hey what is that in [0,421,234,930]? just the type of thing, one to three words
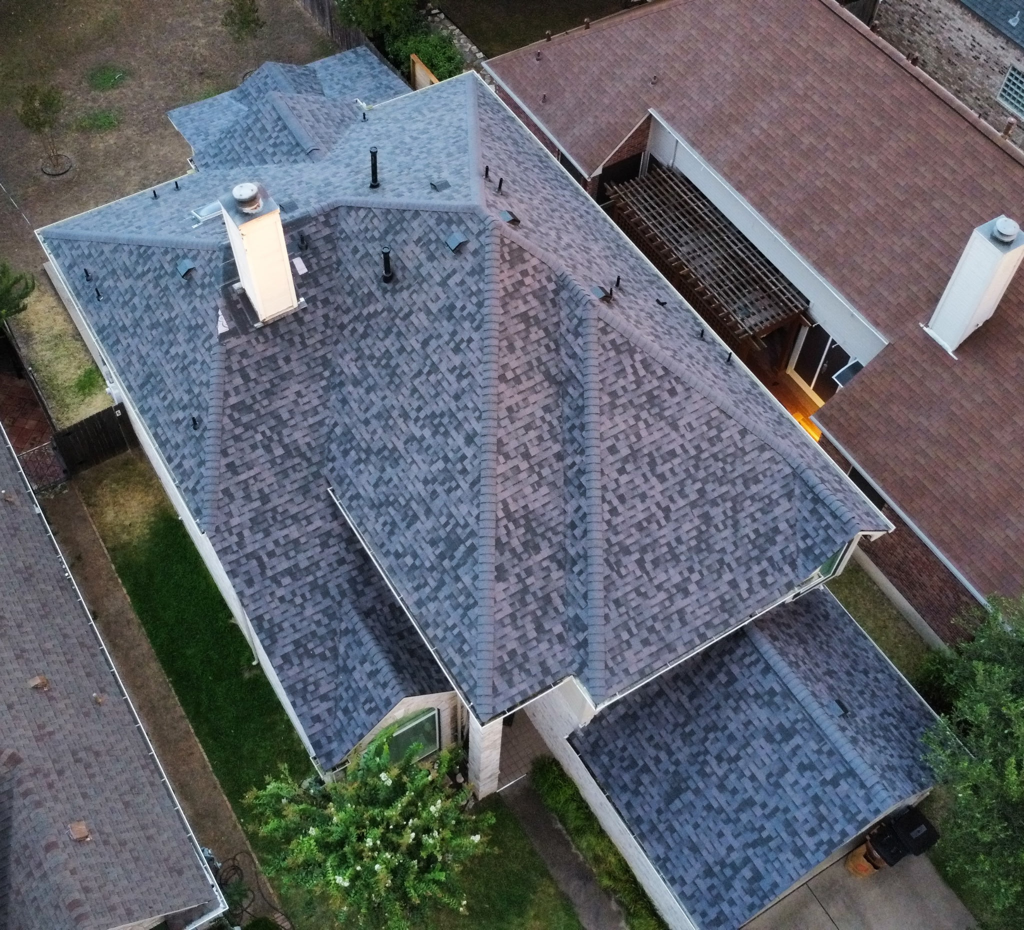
house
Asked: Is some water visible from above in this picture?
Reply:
No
